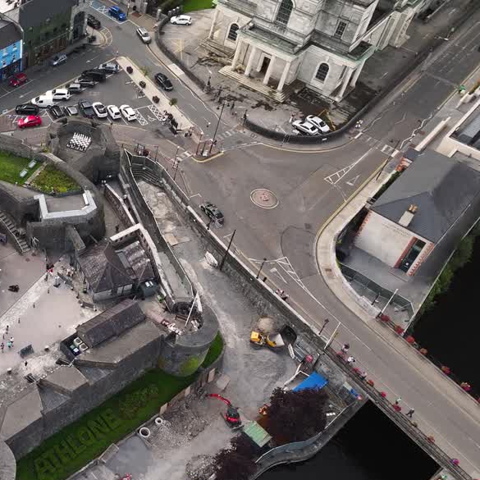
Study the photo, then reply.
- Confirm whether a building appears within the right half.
Yes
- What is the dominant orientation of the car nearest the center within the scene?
at an angle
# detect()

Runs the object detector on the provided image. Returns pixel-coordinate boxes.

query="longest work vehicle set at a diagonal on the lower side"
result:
[207,386,246,427]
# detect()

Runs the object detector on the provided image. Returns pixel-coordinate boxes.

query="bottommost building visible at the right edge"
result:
[351,148,480,276]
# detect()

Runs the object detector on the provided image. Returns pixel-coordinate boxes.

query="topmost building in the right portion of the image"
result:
[203,0,440,102]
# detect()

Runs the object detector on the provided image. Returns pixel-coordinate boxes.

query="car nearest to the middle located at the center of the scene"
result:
[198,202,227,228]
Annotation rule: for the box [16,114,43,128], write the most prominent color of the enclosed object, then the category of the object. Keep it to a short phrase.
red car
